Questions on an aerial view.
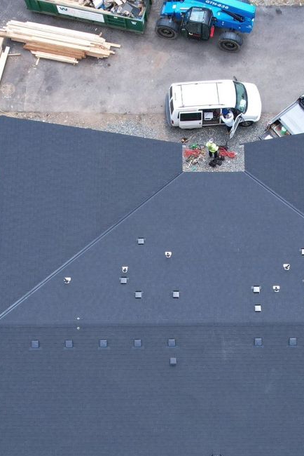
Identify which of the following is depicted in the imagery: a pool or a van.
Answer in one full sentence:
It is a van that can be seen here.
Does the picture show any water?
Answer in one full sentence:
No, no water is visible.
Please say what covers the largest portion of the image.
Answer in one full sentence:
The largest share of the image is taken up by buildings.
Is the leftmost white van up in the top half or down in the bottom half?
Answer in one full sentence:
The leftmost white van sits in the top half of the picture.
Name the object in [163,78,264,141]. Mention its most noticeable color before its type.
white van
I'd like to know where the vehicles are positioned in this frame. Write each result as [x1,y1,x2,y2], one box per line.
[252,91,304,140]
[141,0,257,53]
[163,78,264,141]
